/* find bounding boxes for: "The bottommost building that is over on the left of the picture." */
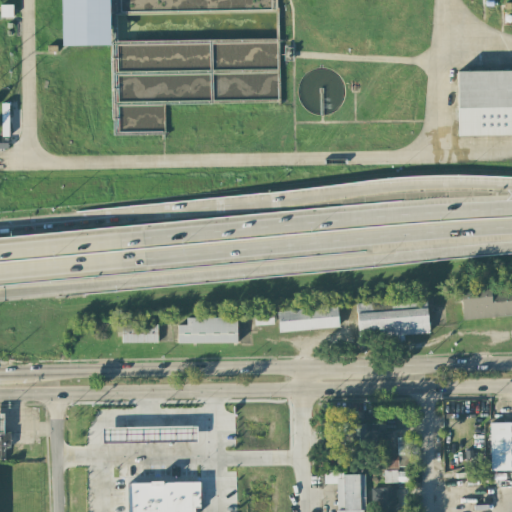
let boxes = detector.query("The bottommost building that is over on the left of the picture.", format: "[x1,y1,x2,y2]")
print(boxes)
[132,481,202,512]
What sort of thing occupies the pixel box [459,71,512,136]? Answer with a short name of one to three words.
shed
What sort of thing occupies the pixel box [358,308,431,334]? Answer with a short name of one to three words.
house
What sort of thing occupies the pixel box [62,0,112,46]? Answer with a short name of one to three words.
shed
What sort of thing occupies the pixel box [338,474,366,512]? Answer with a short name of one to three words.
building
